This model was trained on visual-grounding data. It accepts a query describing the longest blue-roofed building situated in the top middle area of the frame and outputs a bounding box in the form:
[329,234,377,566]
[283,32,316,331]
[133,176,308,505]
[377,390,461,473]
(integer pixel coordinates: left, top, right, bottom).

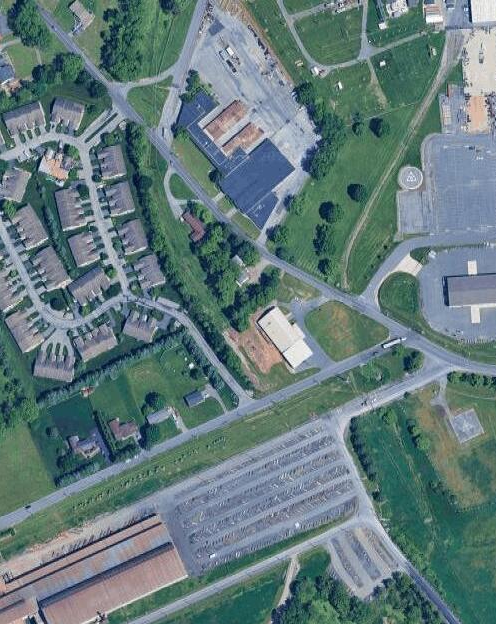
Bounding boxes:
[177,91,296,230]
